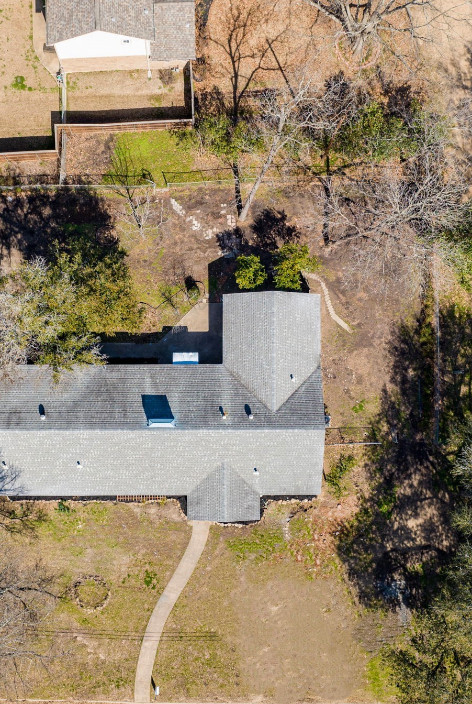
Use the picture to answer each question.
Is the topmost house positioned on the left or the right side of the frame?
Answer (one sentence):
The topmost house is on the left side of the image.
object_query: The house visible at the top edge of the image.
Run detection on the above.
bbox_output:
[43,0,194,82]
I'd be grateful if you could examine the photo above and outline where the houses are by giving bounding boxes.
[43,0,194,82]
[0,291,327,522]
